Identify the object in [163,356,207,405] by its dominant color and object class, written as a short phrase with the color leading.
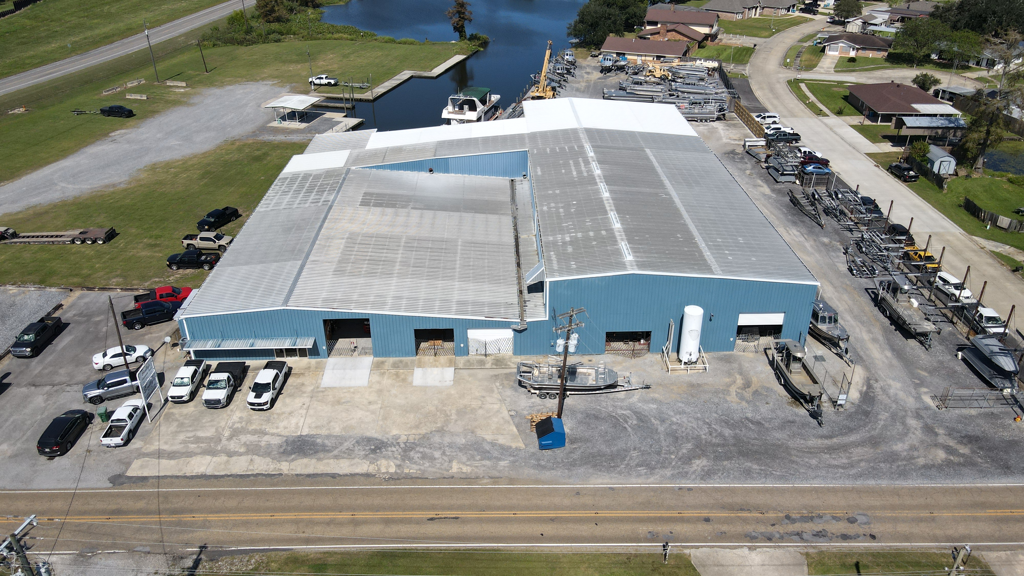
white truck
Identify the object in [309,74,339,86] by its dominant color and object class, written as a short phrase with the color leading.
white vehicle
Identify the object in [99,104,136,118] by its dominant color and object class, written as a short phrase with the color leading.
black vehicle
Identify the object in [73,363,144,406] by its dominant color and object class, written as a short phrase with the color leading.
gray truck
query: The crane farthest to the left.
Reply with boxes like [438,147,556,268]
[523,40,563,100]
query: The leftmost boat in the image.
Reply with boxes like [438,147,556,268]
[442,85,504,124]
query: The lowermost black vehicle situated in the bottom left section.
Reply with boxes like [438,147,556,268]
[30,407,91,459]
